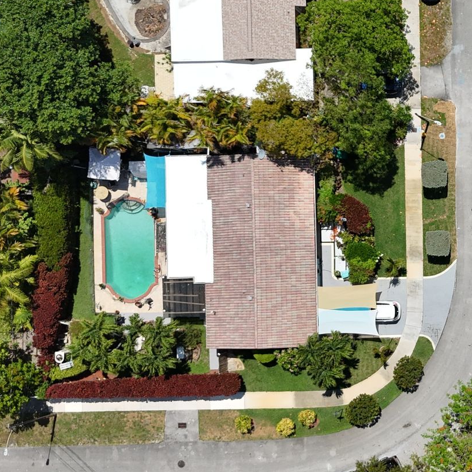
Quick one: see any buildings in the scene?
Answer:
Yes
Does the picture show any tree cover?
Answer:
Yes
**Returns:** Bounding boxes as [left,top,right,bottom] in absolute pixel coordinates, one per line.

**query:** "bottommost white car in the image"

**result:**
[372,301,405,324]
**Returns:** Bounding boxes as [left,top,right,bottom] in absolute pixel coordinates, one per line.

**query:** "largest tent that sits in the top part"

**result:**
[88,147,131,183]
